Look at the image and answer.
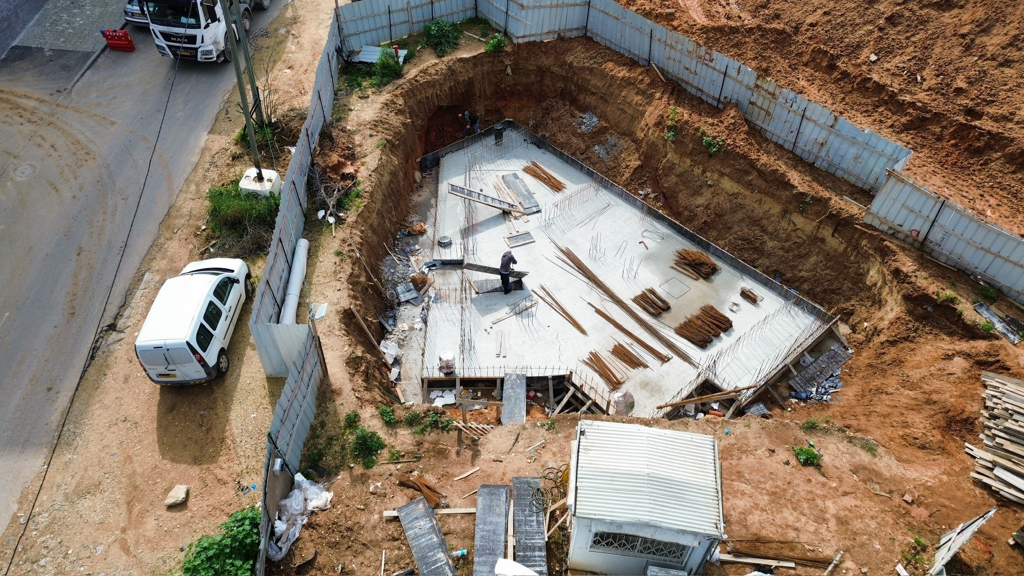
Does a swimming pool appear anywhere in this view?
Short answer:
No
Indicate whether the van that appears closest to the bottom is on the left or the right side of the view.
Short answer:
left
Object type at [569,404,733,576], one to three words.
shed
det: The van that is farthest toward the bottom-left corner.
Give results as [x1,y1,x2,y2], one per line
[132,253,252,392]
